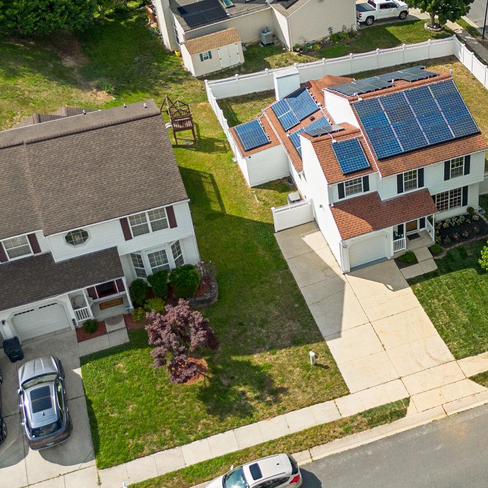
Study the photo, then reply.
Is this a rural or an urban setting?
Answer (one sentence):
The land in this view is best described as urban.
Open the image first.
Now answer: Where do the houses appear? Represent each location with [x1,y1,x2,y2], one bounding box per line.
[227,67,488,275]
[0,96,198,348]
[159,0,356,51]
